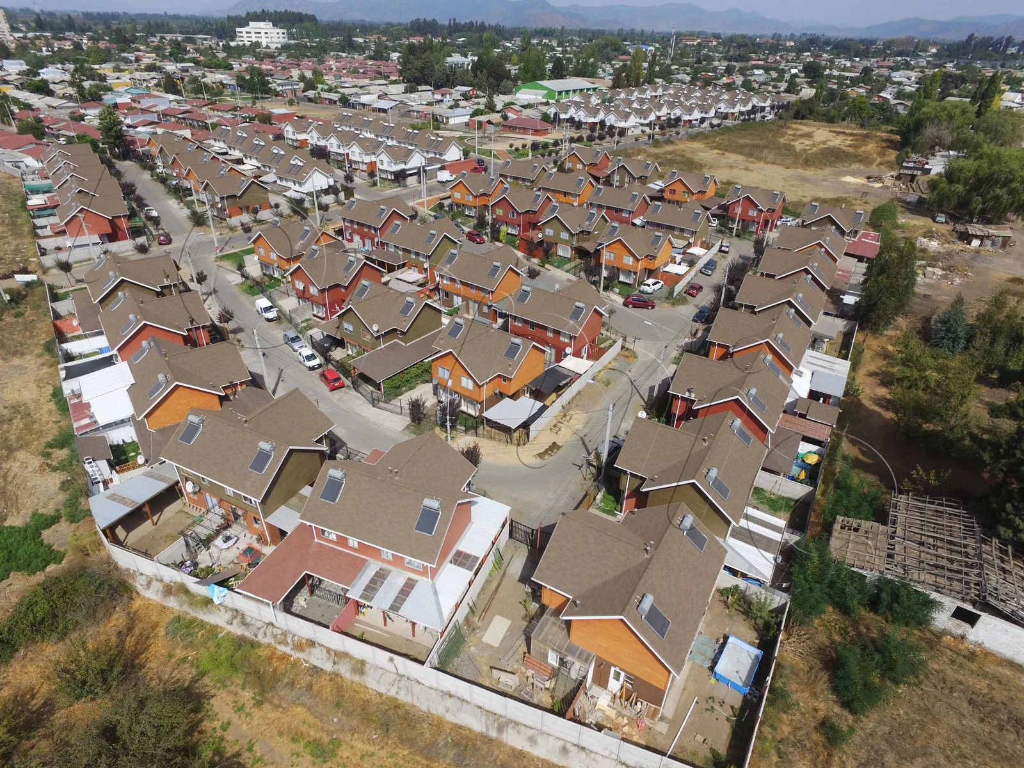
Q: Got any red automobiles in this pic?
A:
Yes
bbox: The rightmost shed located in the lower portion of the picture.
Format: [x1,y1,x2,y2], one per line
[829,495,1024,668]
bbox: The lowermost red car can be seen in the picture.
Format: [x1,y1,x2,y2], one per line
[315,361,348,390]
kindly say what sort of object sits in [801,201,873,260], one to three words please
house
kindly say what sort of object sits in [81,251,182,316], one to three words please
house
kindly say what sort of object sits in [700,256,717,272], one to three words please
car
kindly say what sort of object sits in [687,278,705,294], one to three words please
car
